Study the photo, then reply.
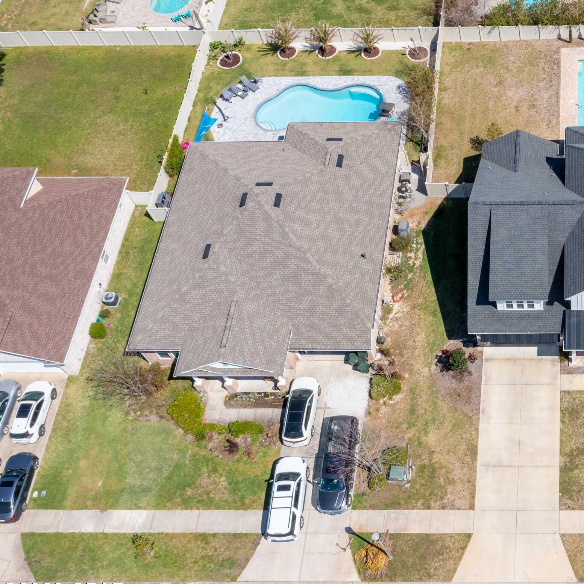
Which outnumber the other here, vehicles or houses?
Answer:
vehicles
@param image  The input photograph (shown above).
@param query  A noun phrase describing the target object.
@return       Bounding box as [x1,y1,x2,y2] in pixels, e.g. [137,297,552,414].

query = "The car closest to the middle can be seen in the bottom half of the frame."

[278,374,320,445]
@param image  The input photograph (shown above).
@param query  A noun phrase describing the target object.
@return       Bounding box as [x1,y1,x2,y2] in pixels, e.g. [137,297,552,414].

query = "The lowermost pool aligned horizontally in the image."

[252,82,388,133]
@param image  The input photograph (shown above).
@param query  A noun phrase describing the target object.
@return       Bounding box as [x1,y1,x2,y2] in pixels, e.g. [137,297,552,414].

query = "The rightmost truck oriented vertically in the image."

[312,422,356,513]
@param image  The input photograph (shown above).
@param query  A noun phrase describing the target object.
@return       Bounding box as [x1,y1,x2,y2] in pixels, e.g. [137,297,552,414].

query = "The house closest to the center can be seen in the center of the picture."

[131,120,404,391]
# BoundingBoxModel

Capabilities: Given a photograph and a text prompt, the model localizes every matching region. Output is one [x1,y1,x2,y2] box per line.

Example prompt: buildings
[467,125,584,366]
[0,166,130,376]
[131,120,404,391]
